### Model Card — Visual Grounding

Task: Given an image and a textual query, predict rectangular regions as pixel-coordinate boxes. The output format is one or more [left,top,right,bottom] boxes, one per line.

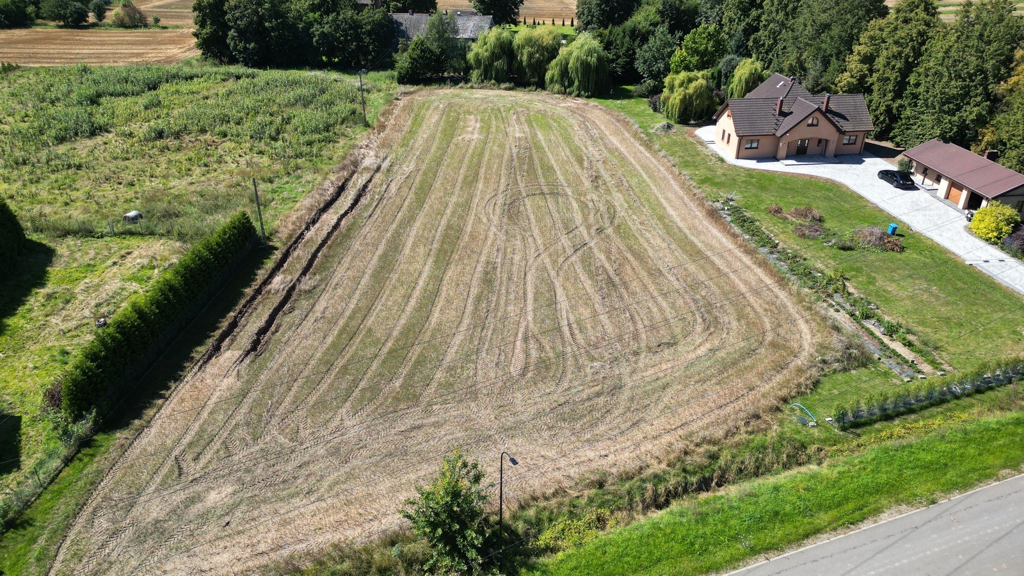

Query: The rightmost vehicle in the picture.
[877,167,914,184]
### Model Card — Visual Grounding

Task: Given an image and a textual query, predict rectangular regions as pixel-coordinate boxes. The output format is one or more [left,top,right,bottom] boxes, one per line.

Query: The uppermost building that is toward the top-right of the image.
[704,69,873,162]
